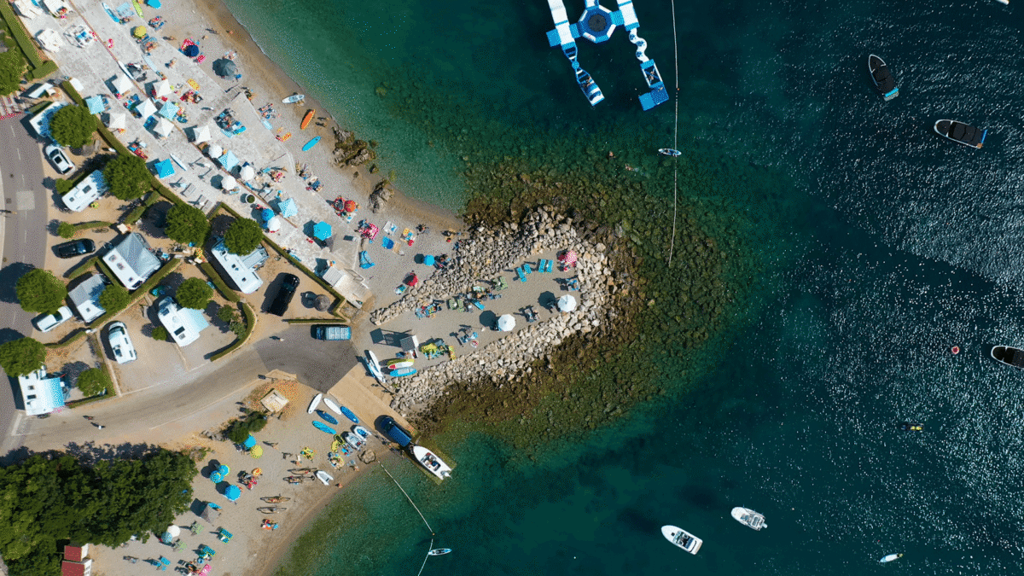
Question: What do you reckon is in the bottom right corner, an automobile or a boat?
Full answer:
You can see a boat in the bottom right corner.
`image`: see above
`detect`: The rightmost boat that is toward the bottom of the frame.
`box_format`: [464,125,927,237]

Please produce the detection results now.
[988,347,1024,370]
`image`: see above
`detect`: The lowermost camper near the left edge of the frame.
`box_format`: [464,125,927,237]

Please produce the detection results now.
[22,366,74,419]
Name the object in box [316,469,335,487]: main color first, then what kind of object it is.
white boat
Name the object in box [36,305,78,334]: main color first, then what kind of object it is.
white car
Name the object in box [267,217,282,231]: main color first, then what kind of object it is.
white umbrella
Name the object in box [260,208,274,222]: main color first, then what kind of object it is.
blue umbrella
